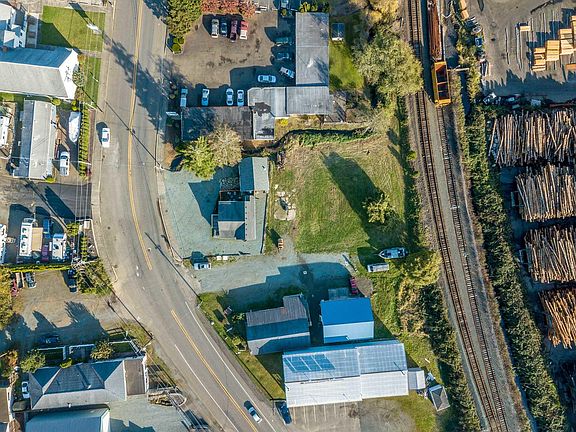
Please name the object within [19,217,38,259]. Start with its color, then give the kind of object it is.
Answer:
white camper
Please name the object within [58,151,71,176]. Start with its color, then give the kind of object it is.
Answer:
white vehicle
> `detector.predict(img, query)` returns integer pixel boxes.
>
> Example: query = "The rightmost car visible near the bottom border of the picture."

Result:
[279,402,291,425]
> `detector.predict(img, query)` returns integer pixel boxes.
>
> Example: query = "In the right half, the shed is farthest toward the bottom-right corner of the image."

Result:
[427,382,451,412]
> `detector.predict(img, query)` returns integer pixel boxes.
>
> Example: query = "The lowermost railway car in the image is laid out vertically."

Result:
[430,62,452,109]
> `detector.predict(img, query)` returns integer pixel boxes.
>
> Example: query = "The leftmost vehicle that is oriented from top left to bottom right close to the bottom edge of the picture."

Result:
[247,404,264,426]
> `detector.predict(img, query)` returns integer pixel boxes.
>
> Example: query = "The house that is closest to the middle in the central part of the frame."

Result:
[217,155,268,240]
